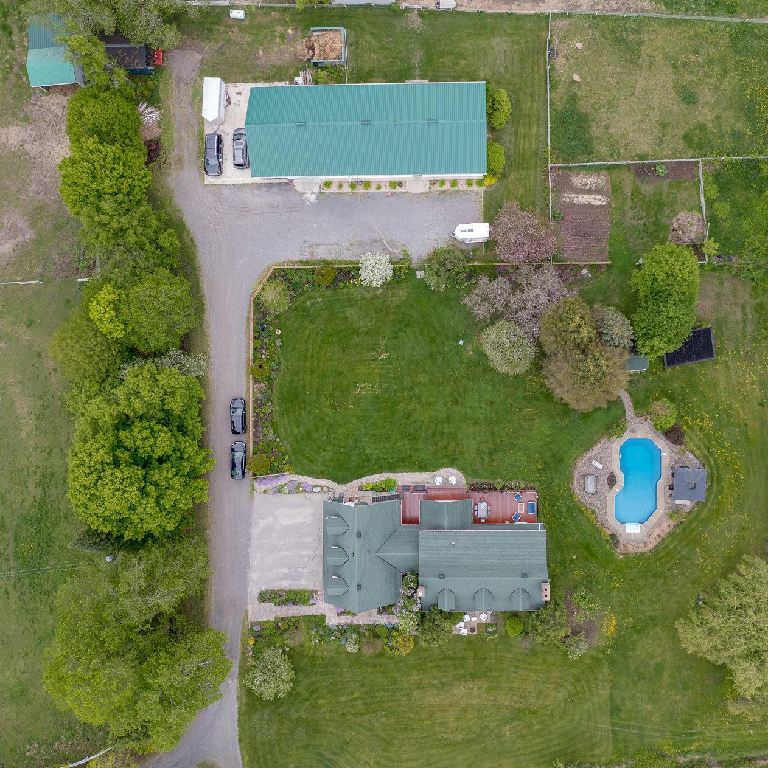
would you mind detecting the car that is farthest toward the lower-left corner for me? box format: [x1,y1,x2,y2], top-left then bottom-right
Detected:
[229,443,246,478]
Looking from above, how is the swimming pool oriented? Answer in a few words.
from top to bottom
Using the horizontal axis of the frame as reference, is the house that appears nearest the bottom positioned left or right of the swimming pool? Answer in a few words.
left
